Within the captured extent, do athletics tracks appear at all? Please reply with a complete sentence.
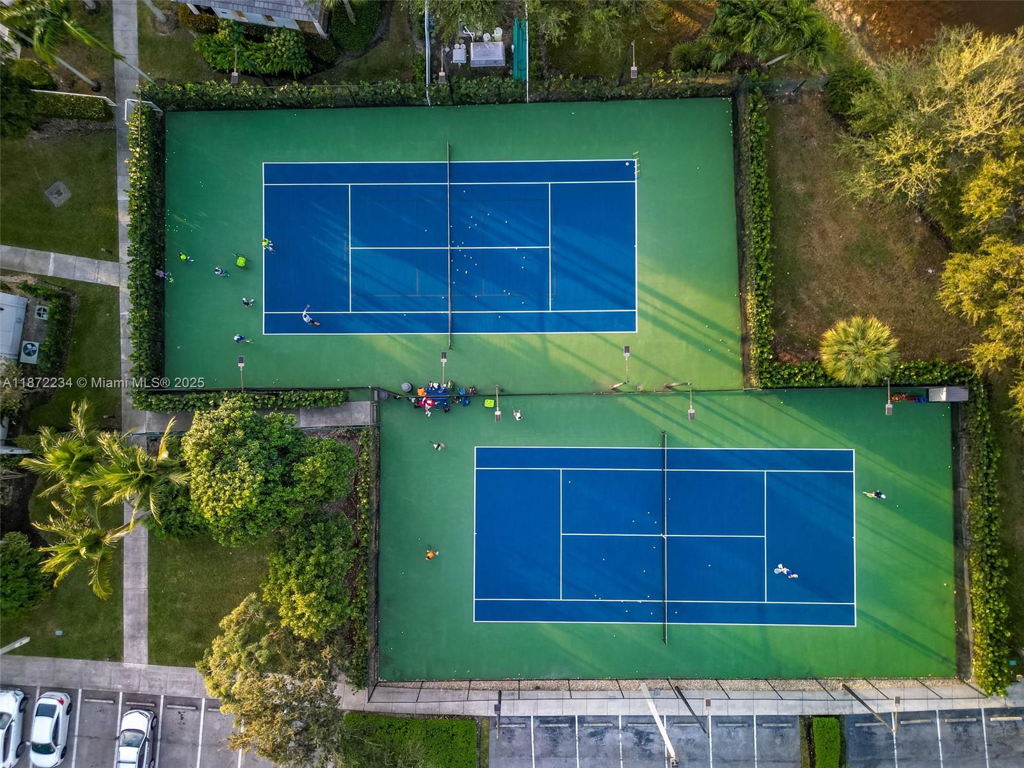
No, there's no athletics track here.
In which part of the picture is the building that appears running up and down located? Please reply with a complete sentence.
Look in the left portion of the view to spot the building that appears running up and down.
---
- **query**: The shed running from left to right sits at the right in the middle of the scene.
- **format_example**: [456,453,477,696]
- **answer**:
[923,386,969,402]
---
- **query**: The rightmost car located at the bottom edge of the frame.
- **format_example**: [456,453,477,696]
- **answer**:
[109,708,152,768]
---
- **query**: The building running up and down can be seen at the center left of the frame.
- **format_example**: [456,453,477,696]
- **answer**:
[0,293,28,359]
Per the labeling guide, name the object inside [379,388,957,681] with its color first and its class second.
green tennis court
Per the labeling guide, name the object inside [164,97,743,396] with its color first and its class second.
green tennis court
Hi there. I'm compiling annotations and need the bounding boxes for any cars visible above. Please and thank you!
[0,696,29,768]
[109,708,152,768]
[21,694,69,768]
